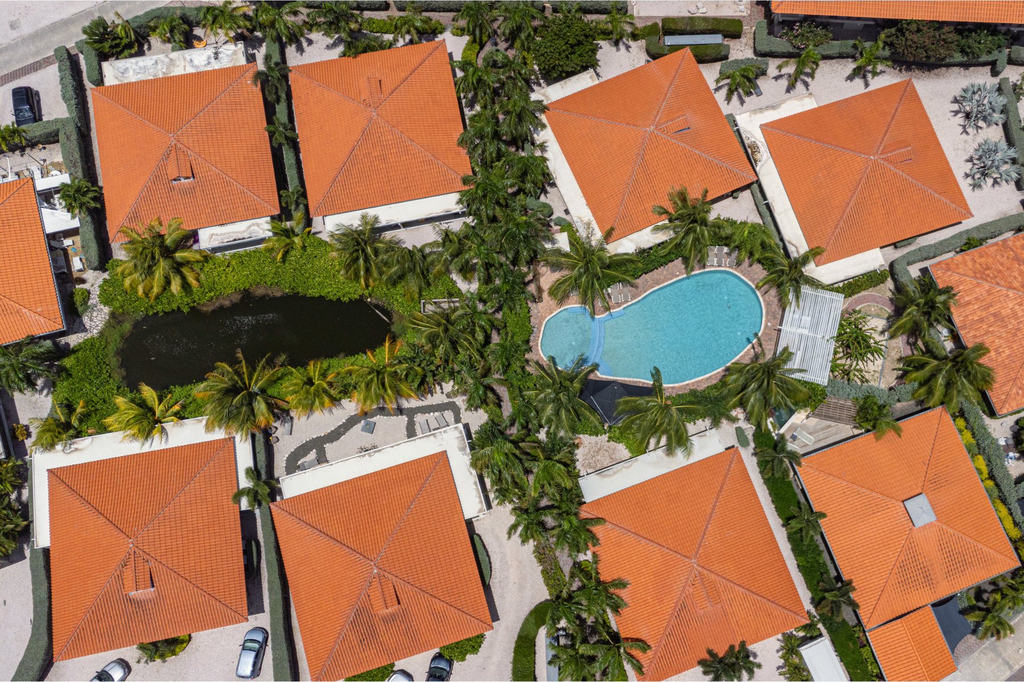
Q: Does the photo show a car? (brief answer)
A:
Yes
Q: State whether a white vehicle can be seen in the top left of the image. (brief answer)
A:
No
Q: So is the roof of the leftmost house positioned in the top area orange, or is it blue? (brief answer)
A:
orange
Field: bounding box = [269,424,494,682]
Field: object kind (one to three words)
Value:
house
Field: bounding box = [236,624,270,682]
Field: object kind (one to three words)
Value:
car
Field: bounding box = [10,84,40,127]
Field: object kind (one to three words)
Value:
car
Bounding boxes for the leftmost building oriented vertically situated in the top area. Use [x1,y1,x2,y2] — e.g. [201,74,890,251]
[0,175,71,343]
